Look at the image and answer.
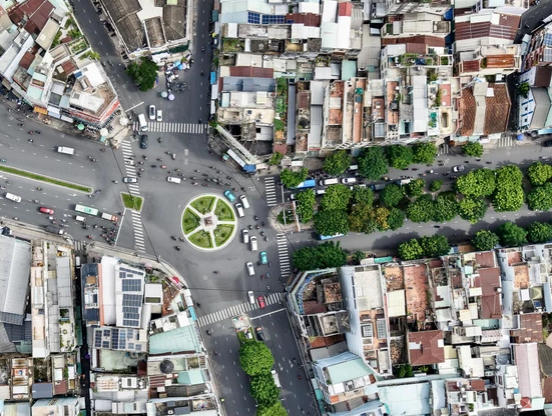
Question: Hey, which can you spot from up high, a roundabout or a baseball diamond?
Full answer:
There is a roundabout in the scene.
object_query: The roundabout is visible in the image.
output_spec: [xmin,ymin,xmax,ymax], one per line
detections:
[182,194,237,250]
